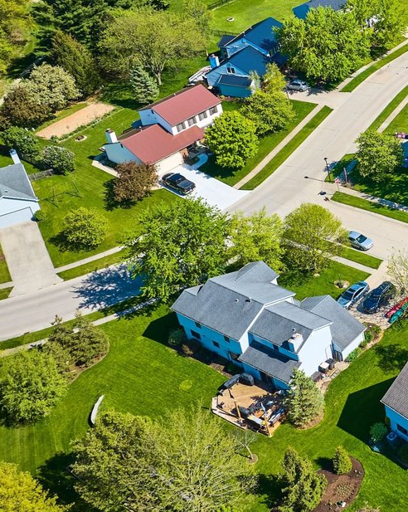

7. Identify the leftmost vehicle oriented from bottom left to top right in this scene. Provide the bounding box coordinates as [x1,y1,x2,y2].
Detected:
[344,277,375,307]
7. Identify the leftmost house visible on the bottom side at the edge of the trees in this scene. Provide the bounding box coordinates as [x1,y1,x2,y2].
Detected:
[169,262,368,395]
